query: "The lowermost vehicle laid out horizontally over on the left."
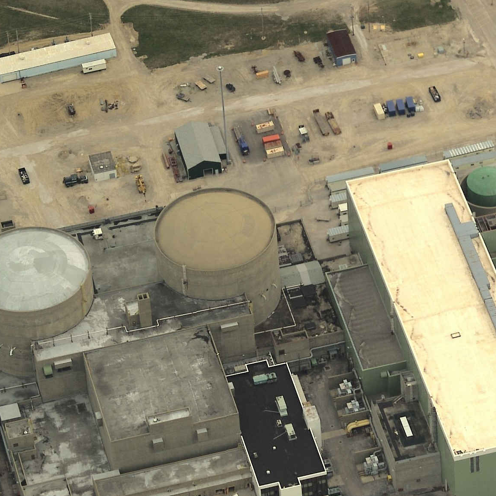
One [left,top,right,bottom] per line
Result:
[63,171,88,184]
